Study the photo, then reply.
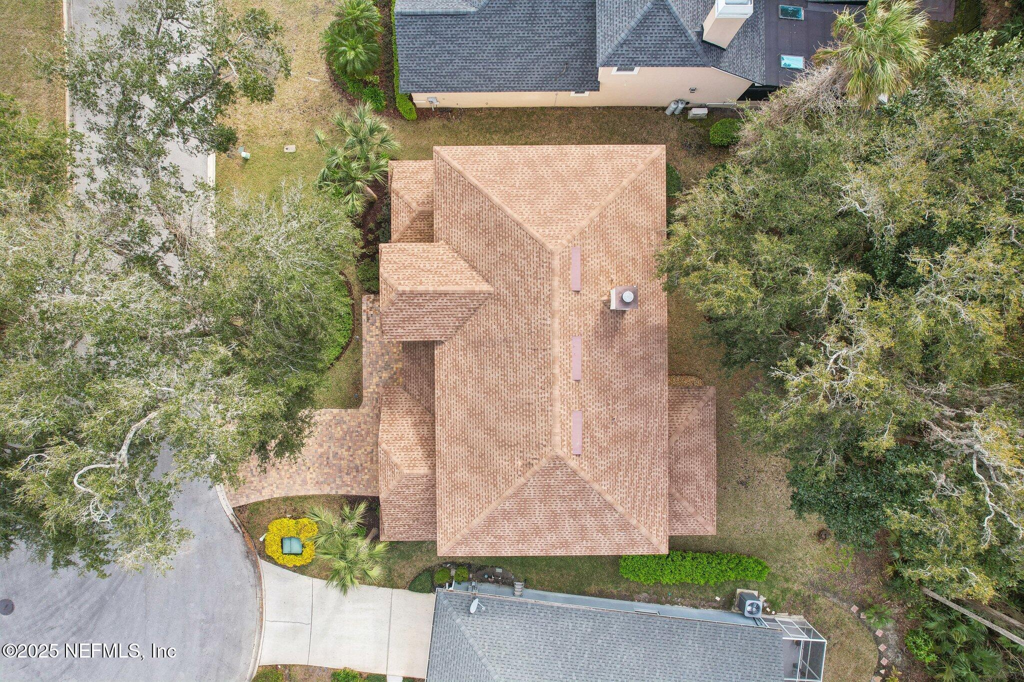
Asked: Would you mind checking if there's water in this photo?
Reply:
No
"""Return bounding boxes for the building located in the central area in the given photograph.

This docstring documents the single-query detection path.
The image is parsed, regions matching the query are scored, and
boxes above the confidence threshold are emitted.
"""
[375,144,717,557]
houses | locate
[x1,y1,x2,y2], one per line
[375,144,717,557]
[395,0,766,107]
[423,572,786,682]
